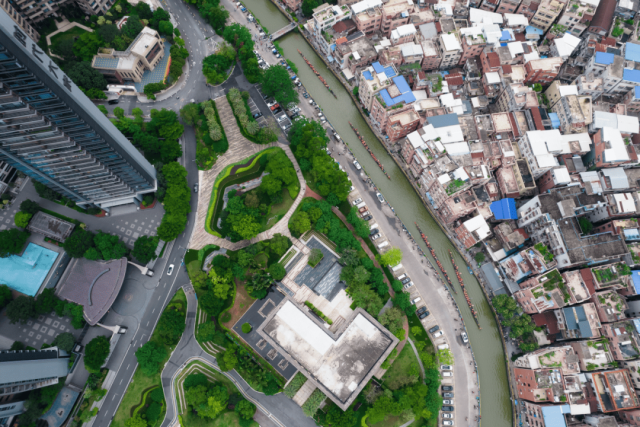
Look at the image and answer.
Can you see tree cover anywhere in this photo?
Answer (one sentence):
Yes, tree cover can be seen from above here.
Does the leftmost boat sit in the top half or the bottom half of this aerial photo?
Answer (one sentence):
Seen from above, the leftmost boat lies in the top half of the view.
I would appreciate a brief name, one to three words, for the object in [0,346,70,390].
building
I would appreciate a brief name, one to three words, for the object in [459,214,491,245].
house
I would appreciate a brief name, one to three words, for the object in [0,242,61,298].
swimming pool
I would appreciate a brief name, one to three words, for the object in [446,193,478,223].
house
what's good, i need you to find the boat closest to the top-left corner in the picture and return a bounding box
[296,47,337,98]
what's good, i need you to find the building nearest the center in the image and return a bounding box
[314,264,342,298]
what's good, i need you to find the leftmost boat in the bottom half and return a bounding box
[414,219,458,295]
